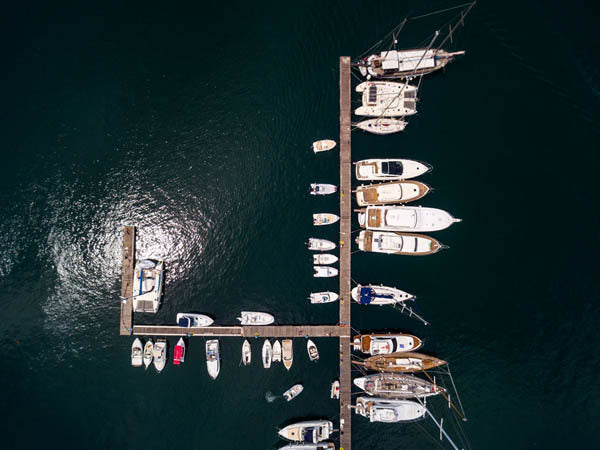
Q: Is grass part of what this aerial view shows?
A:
No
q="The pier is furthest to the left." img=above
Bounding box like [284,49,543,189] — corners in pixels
[120,226,137,335]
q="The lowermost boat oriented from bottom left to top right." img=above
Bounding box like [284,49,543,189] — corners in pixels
[282,384,304,403]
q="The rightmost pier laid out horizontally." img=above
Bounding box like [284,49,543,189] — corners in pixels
[242,324,340,337]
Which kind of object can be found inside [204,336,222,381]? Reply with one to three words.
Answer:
boat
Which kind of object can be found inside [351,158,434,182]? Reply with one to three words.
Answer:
boat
